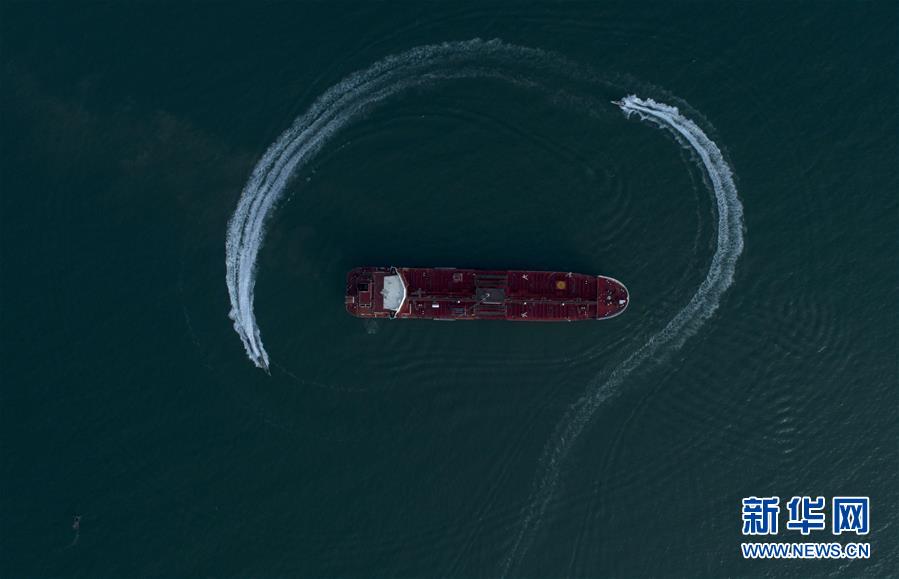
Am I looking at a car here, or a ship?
ship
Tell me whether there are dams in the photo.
No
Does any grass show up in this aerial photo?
No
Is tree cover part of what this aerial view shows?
No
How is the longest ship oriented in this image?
from left to right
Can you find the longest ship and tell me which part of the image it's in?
center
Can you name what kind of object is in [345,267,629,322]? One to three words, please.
ship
